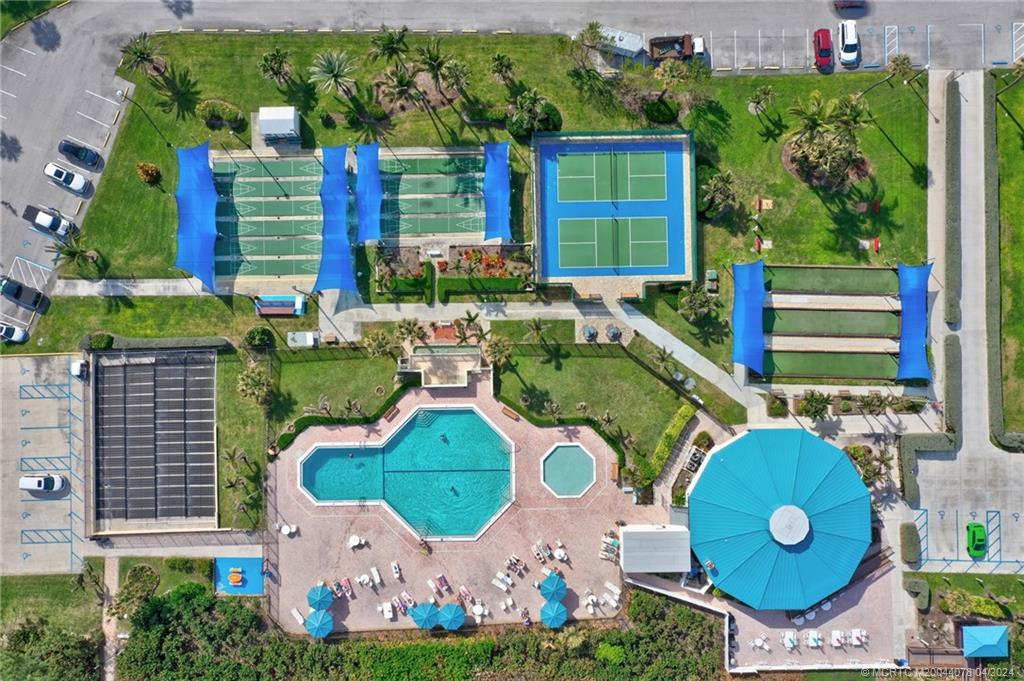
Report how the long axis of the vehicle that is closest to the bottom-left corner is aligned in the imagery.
from side to side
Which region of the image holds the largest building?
bottom right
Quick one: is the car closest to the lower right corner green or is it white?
green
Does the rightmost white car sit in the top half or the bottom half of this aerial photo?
top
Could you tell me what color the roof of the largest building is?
blue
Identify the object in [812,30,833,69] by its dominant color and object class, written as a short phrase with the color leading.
red car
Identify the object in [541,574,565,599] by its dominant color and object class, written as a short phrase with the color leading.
blue umbrella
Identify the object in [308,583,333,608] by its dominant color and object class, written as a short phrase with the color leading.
blue umbrella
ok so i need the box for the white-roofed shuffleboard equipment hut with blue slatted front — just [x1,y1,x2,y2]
[259,107,302,147]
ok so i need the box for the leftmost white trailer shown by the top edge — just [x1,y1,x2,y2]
[600,25,644,57]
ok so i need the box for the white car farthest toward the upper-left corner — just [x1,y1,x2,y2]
[45,163,89,193]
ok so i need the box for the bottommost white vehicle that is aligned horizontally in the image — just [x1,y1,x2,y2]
[18,473,66,493]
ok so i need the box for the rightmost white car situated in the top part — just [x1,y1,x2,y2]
[837,23,859,66]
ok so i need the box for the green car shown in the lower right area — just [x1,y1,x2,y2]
[965,521,987,557]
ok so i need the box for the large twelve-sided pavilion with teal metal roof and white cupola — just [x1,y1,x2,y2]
[685,428,872,612]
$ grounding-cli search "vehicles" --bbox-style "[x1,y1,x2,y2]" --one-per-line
[23,202,75,237]
[643,35,708,61]
[67,362,90,374]
[18,473,66,493]
[812,30,833,69]
[45,163,89,193]
[60,140,102,169]
[0,319,30,346]
[965,521,987,557]
[0,277,43,309]
[837,23,859,66]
